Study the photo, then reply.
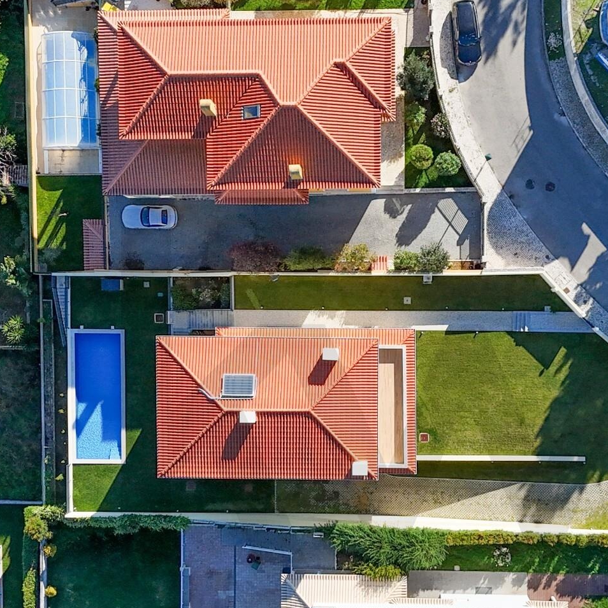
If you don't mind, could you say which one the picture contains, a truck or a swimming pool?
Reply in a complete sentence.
The one in the frame is a swimming pool.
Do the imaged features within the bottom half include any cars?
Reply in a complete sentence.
No, there's no car to be seen within the bottom half.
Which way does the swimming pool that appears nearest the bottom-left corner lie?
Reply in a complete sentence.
From this overhead view, the swimming pool that appears nearest the bottom-left corner appears to run from top to bottom.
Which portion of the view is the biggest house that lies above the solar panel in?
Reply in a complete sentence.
The biggest house that lies above the solar panel is in the top part of the image.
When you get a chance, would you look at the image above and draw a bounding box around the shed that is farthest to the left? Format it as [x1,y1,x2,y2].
[81,217,119,272]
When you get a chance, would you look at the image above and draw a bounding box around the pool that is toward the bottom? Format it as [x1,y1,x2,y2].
[70,328,127,465]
